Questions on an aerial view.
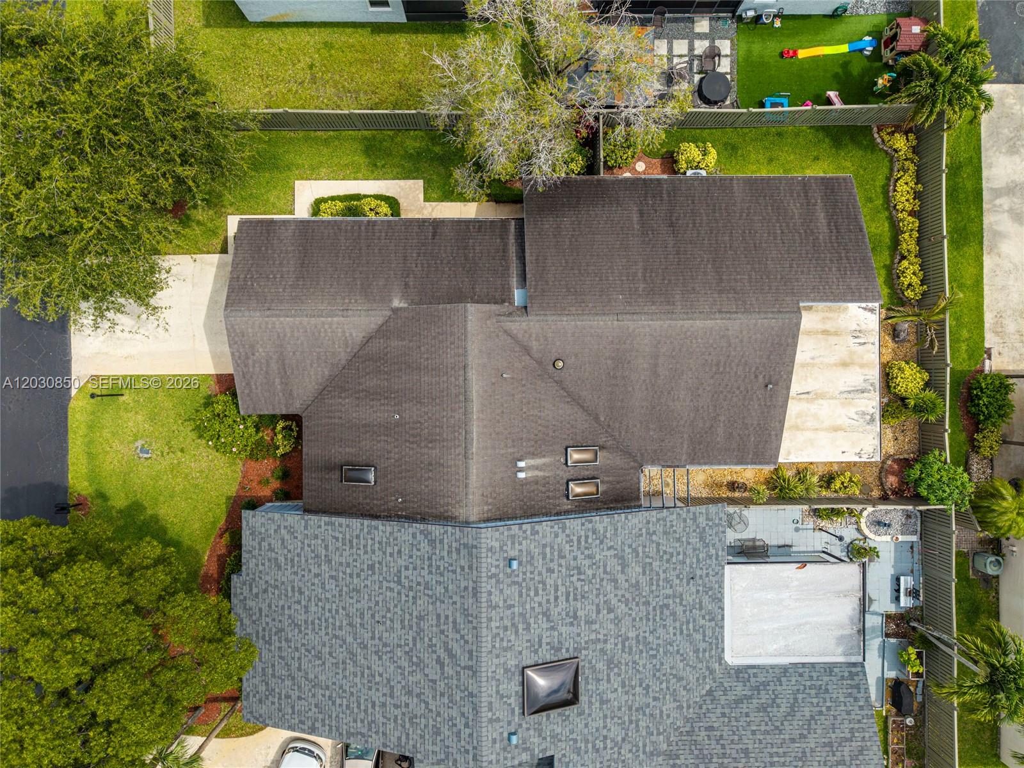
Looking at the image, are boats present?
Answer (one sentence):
No, the scene contains no boat.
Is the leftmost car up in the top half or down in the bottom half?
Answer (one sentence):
The bottom half of the photo is where the leftmost car is.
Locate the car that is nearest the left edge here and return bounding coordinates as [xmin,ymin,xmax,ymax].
[277,741,329,768]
